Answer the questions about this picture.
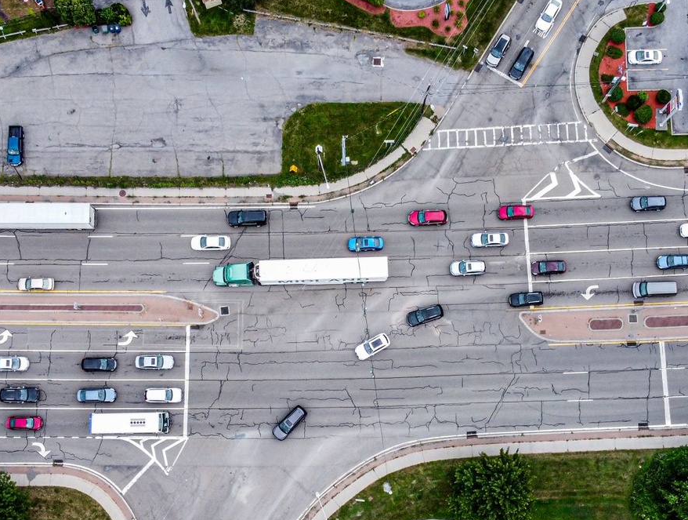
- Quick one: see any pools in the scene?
No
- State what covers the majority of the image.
paved ground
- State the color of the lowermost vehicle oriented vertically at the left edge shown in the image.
blue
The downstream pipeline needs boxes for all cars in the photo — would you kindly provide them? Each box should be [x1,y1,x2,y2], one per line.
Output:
[449,258,487,277]
[654,253,688,271]
[0,355,32,373]
[227,209,267,227]
[18,274,56,292]
[676,223,688,238]
[628,194,668,212]
[76,386,118,405]
[0,385,42,404]
[80,356,119,374]
[354,330,392,361]
[507,43,537,84]
[405,303,445,327]
[496,204,534,221]
[347,235,384,252]
[5,415,45,433]
[407,207,447,226]
[191,234,230,251]
[145,386,183,405]
[483,30,514,70]
[507,291,543,309]
[135,354,176,372]
[272,402,308,443]
[532,0,565,38]
[529,258,567,276]
[469,231,509,248]
[626,48,663,66]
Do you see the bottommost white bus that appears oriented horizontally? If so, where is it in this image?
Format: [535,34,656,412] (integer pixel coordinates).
[87,411,175,434]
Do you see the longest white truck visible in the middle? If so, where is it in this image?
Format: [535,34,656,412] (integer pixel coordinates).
[212,257,389,287]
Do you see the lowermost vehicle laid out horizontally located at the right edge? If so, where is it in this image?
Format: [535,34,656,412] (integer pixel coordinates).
[630,280,680,298]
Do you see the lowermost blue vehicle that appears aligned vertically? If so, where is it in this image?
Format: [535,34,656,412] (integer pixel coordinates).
[4,124,25,168]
